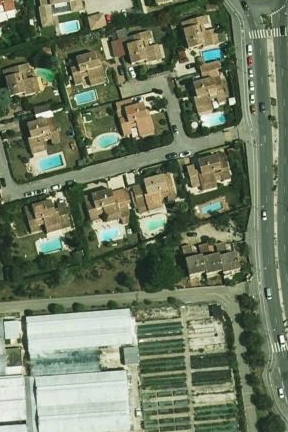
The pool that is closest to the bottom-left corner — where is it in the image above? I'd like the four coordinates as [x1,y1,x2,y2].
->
[35,232,63,256]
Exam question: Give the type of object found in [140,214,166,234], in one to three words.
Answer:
swimming pool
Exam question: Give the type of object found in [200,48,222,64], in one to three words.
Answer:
swimming pool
